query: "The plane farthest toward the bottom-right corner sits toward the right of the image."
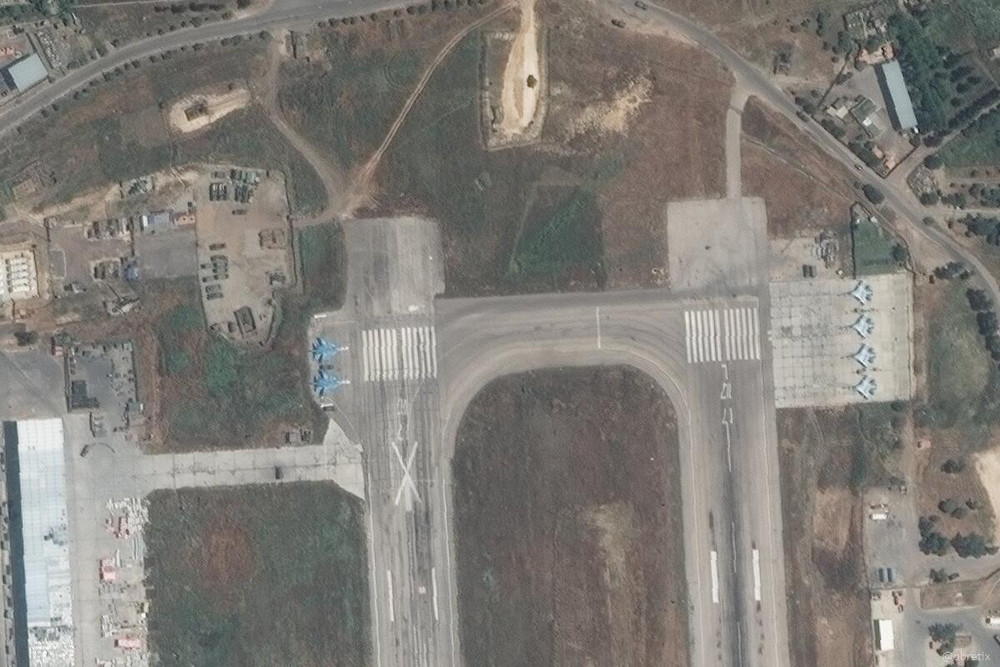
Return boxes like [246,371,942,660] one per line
[844,376,877,398]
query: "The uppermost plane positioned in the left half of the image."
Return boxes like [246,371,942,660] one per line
[311,337,348,362]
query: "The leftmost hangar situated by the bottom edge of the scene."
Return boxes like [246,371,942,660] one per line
[17,418,78,667]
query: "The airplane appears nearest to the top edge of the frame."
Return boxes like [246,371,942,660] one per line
[841,281,874,305]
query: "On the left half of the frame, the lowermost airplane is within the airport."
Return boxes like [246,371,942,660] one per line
[312,371,350,396]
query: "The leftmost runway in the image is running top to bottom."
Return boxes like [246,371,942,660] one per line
[309,217,461,667]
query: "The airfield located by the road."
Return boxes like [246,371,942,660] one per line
[62,197,913,667]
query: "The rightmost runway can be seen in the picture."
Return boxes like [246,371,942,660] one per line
[667,197,789,667]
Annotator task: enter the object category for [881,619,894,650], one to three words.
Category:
shed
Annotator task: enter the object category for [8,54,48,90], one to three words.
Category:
building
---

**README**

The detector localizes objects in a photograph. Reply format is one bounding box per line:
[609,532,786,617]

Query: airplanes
[843,344,876,367]
[842,315,874,338]
[841,281,874,305]
[312,371,350,396]
[311,337,348,362]
[844,376,877,398]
